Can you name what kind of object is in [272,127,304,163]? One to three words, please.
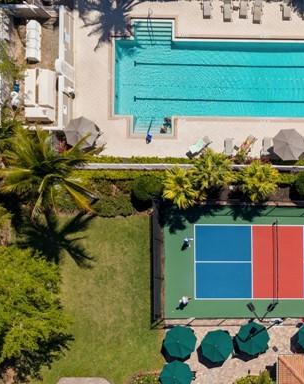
umbrella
